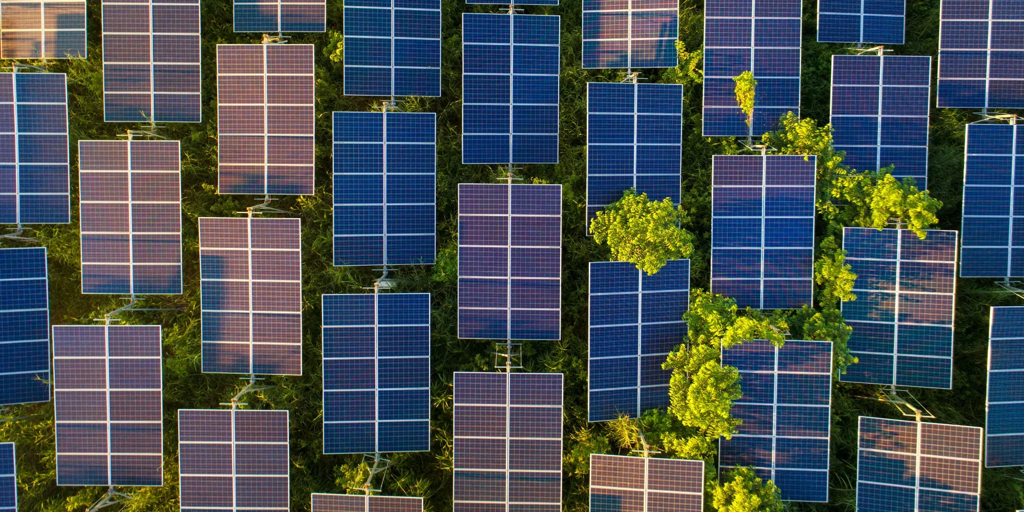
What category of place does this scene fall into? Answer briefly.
solar farm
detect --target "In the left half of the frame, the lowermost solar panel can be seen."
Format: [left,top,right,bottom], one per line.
[312,483,423,512]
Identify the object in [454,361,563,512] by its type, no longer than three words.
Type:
solar panel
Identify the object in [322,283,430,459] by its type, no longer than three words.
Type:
solar panel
